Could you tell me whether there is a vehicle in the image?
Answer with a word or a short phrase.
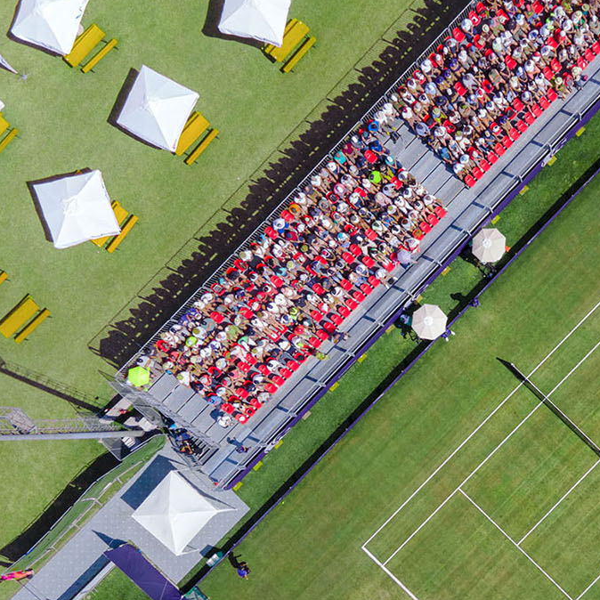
No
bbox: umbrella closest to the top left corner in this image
[13,0,97,57]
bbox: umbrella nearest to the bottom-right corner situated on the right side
[408,301,447,342]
